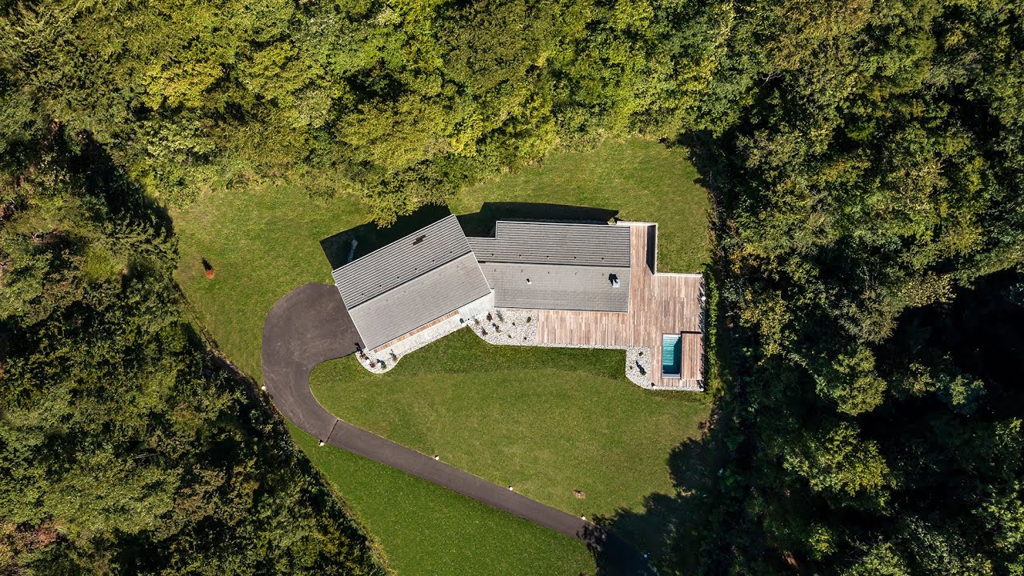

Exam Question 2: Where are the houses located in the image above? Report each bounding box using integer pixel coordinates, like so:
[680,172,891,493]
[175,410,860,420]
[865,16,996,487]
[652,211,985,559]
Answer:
[331,212,631,350]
